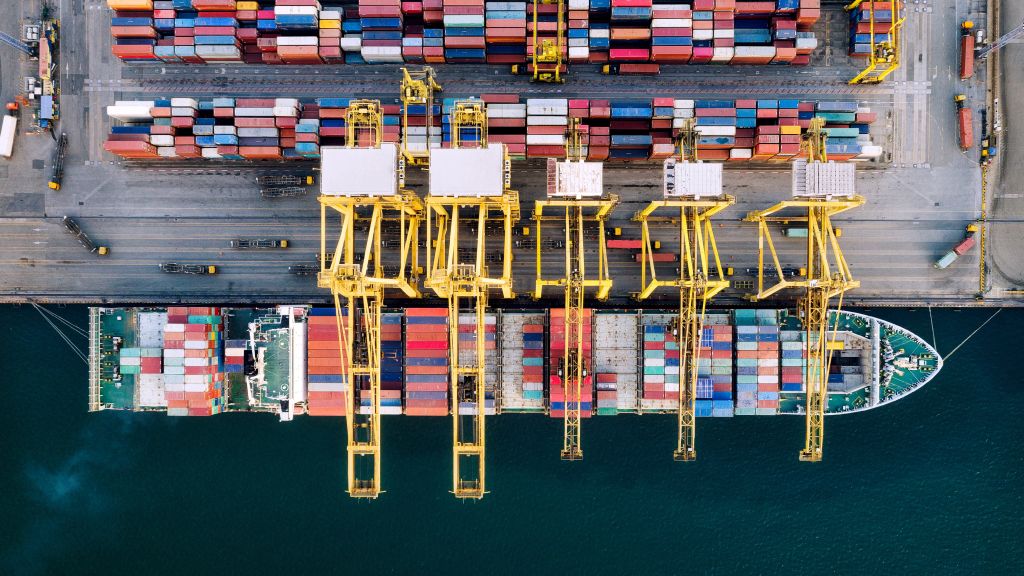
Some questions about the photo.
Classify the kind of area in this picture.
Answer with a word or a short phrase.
port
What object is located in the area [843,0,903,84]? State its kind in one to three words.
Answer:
container crane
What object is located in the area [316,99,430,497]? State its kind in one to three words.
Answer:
container crane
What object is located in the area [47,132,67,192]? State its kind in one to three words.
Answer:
vehicle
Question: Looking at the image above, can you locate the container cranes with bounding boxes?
[424,100,522,504]
[400,59,446,166]
[316,99,430,497]
[745,119,868,460]
[525,0,567,83]
[521,119,617,459]
[843,0,903,84]
[624,119,733,460]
